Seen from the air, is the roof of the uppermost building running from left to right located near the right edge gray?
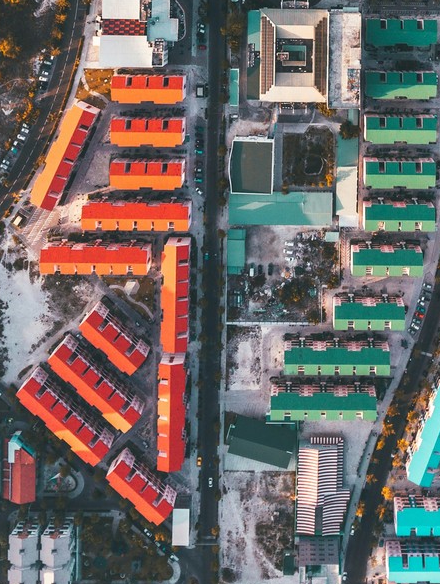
No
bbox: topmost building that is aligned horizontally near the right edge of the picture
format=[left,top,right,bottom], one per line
[363,17,438,46]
